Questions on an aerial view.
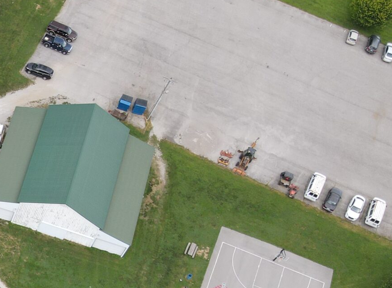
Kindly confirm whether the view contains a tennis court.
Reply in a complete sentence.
No, there appears to be no tennis court in this shot.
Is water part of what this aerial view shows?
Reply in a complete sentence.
No, no water is visible.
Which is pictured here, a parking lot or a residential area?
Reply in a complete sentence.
This image shows a parking lot.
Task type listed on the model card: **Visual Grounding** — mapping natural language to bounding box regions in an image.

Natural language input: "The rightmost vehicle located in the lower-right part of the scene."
[363,198,386,227]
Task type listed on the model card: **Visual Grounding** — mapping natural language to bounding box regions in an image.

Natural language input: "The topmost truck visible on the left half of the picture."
[46,20,78,41]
